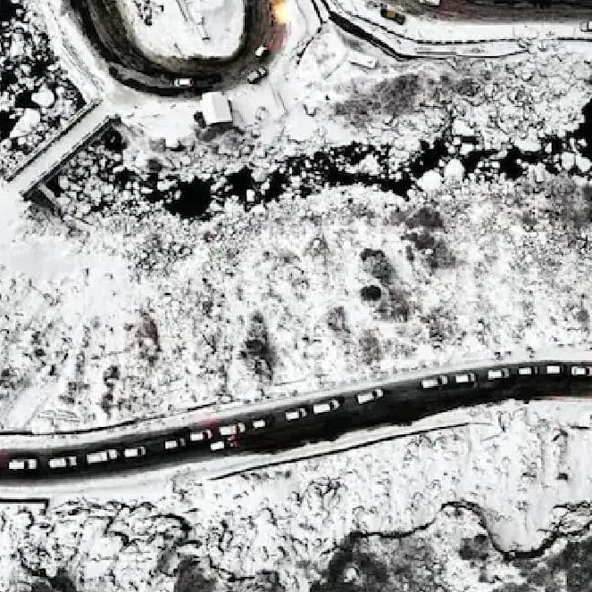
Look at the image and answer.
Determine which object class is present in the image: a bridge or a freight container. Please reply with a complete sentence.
The one in the frame is a bridge.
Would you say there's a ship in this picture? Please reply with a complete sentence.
No, the scene contains no ship.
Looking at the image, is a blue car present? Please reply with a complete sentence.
No, I find no blue car anywhere in the image.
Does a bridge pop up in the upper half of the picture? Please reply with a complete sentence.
Yes, looking in the upper half of the picture, one can make out a bridge.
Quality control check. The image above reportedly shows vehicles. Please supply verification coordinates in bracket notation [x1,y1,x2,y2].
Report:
[220,421,246,436]
[488,368,511,379]
[174,77,196,88]
[191,428,214,440]
[273,0,288,27]
[314,399,341,414]
[213,436,239,449]
[252,416,275,428]
[455,372,477,384]
[545,365,566,376]
[570,366,592,377]
[423,375,448,388]
[51,455,79,467]
[89,449,117,463]
[581,20,592,32]
[246,67,270,85]
[520,366,541,377]
[125,445,148,457]
[419,0,441,7]
[381,6,405,26]
[10,457,38,469]
[165,436,188,448]
[357,388,384,404]
[285,407,309,419]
